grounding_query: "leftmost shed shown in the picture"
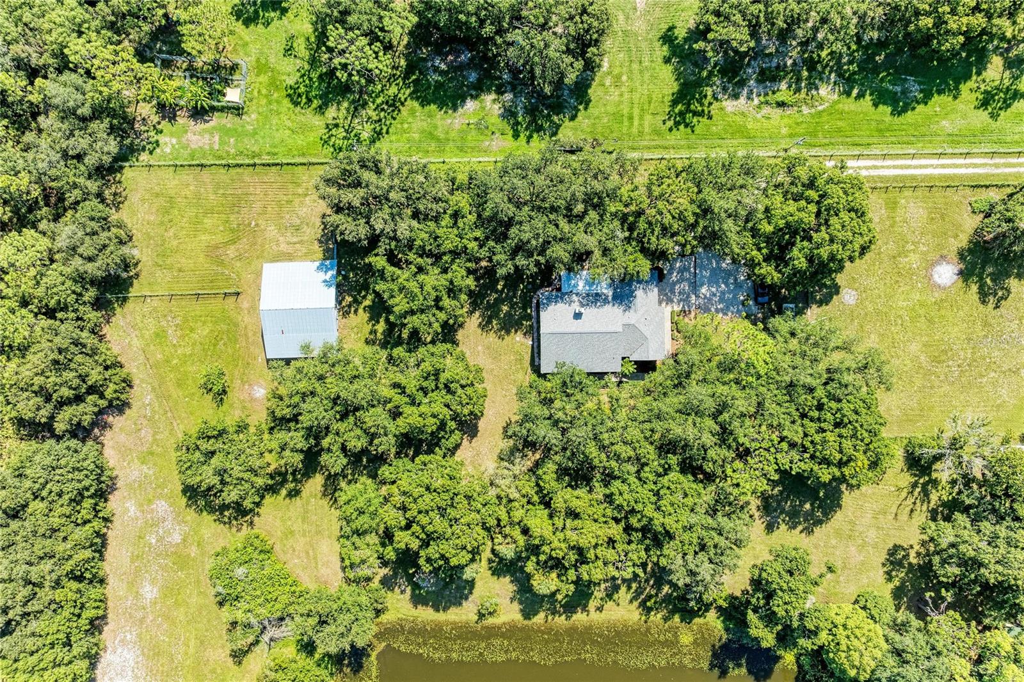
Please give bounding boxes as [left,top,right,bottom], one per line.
[260,260,339,360]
